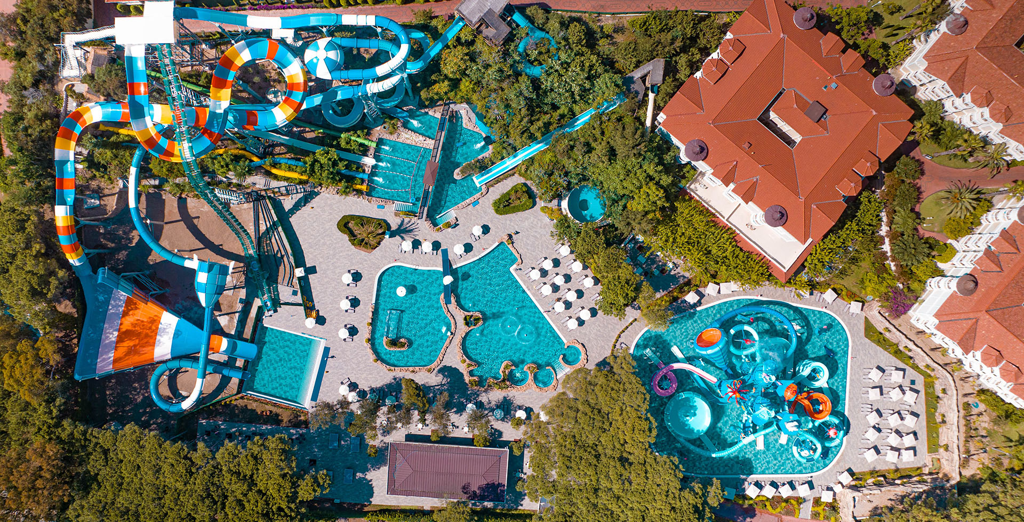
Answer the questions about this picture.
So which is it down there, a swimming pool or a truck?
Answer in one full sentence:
The one in the frame is a swimming pool.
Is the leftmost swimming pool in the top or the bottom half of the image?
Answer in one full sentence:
The leftmost swimming pool is in the bottom half of the image.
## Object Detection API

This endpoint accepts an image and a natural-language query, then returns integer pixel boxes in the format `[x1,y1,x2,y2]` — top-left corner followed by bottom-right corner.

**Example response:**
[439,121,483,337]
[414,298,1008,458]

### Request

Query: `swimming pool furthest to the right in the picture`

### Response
[634,300,846,472]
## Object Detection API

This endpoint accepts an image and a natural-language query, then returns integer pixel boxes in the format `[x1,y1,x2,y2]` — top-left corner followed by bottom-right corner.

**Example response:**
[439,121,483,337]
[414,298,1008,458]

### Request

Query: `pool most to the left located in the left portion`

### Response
[247,327,321,406]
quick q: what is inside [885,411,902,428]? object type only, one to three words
umbrella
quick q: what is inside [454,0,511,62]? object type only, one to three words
shed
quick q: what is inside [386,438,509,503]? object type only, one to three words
building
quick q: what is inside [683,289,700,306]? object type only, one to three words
umbrella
